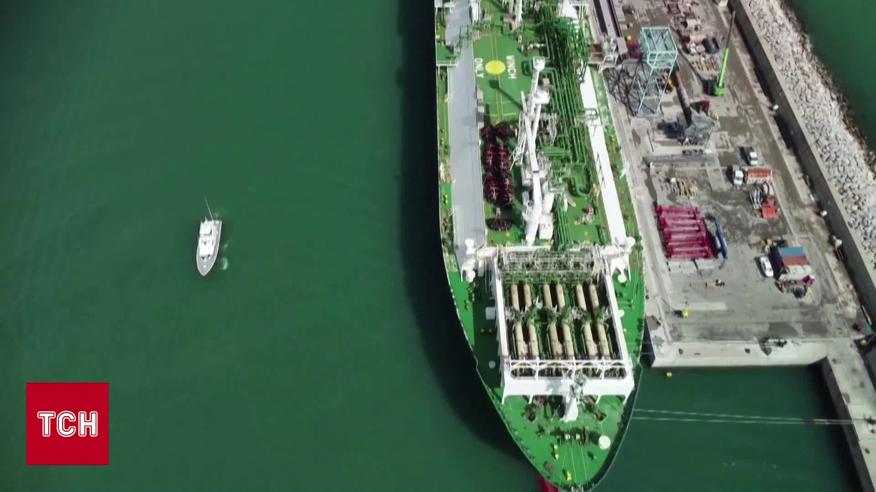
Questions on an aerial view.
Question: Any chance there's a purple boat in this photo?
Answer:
No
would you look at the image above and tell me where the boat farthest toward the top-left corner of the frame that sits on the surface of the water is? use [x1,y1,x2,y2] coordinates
[196,199,222,274]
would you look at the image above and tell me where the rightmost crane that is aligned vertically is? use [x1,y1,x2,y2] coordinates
[701,11,736,98]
